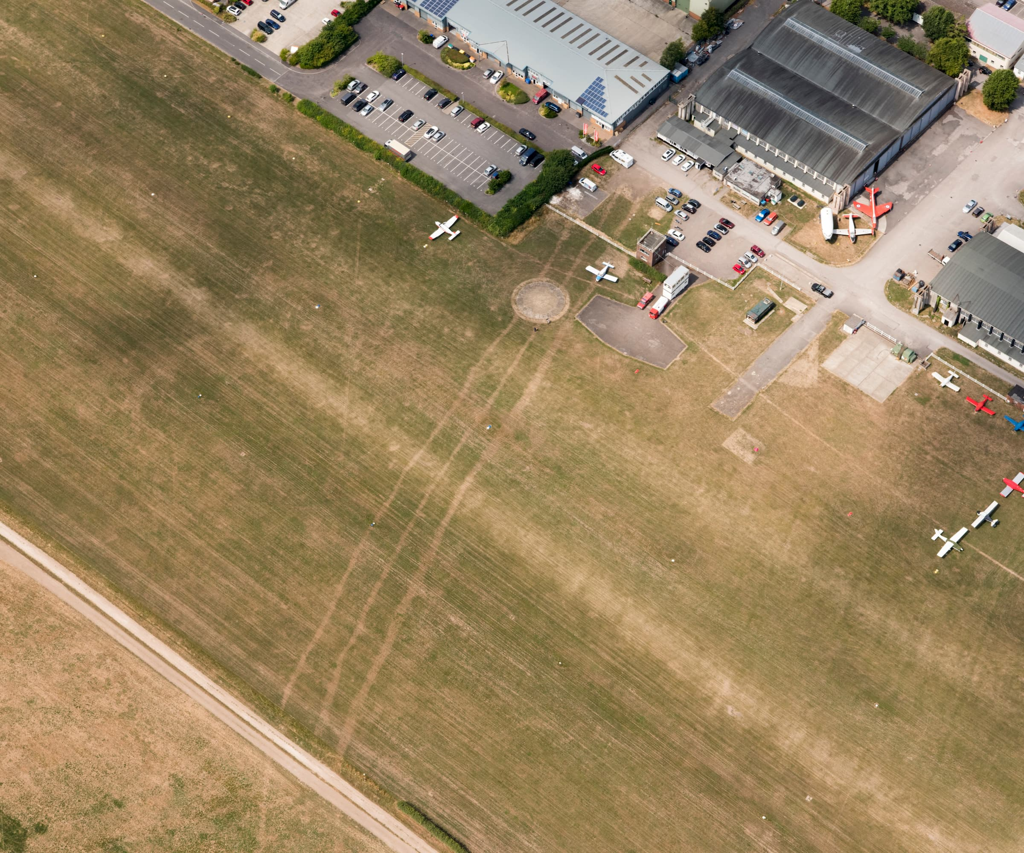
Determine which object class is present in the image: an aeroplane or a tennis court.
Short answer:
aeroplane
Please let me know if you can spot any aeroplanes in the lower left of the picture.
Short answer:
No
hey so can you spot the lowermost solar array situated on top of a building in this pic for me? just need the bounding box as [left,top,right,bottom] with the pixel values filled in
[576,73,610,117]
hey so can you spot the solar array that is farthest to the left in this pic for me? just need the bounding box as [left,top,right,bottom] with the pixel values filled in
[410,0,460,20]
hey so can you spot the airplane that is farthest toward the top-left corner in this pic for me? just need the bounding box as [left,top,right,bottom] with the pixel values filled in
[431,214,461,239]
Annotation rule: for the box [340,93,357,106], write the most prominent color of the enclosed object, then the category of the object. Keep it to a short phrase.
gray vehicle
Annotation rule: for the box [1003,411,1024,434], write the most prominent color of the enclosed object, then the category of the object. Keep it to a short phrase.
blue airplane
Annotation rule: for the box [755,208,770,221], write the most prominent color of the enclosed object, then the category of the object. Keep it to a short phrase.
blue vehicle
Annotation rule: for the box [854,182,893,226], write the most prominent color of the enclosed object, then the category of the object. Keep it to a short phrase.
red airplane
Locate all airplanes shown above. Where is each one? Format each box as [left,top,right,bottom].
[1000,472,1024,498]
[854,182,893,226]
[931,366,963,392]
[584,260,619,283]
[973,500,1004,531]
[431,214,461,239]
[833,211,873,242]
[1003,411,1024,434]
[964,390,997,416]
[932,527,969,558]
